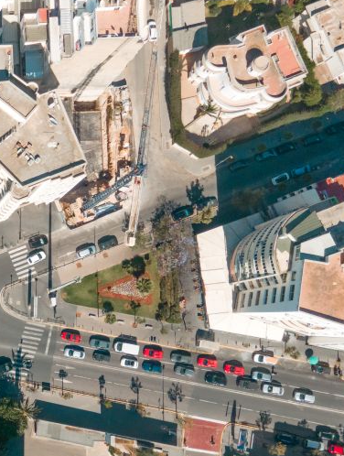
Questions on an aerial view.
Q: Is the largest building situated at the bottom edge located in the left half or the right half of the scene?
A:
left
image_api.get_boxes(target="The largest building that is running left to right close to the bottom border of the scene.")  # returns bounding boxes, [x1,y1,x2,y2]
[32,420,136,454]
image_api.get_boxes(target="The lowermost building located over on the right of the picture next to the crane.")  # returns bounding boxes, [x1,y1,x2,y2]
[184,195,344,345]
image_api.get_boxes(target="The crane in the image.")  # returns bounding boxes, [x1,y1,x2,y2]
[73,0,166,247]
